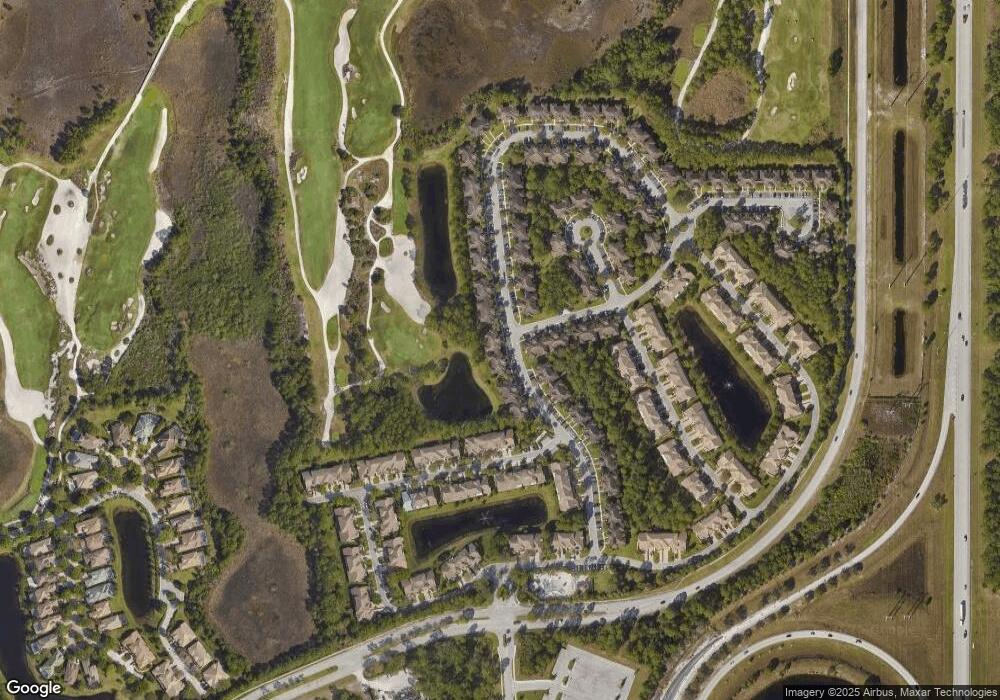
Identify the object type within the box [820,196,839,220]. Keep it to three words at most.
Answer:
house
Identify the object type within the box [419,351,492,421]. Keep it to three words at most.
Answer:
pond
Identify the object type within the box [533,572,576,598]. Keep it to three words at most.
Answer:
swimming pool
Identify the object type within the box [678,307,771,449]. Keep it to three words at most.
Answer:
pond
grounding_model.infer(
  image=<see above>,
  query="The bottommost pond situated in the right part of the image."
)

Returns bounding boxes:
[757,674,867,700]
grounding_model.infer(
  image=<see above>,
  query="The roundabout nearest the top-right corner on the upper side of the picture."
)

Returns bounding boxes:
[779,197,814,237]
